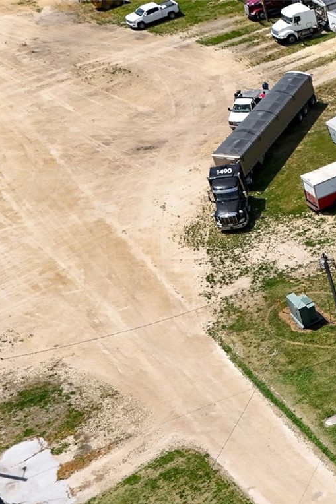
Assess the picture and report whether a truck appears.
Yes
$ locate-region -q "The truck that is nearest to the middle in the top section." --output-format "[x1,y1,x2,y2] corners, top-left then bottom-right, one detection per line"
[209,157,255,231]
